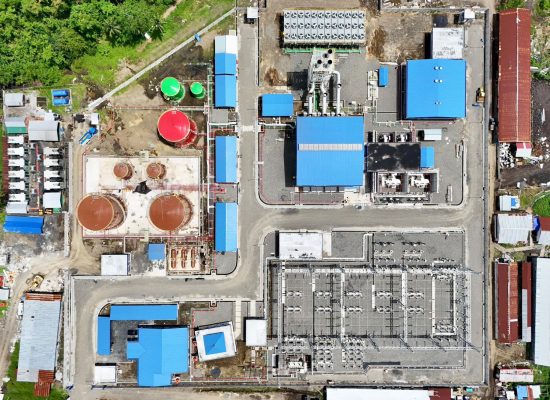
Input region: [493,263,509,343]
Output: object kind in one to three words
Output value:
house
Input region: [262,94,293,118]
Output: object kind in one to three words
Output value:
building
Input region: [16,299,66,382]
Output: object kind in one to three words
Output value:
barn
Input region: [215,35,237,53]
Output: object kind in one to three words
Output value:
shed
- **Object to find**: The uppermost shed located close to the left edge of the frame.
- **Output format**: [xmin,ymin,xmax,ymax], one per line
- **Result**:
[4,93,28,108]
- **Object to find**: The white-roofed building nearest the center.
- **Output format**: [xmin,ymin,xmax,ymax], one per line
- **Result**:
[279,232,323,259]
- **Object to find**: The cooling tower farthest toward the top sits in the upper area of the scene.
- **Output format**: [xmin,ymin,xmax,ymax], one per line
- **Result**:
[280,9,365,53]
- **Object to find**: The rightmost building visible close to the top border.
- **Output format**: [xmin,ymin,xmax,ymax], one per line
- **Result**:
[493,9,531,142]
